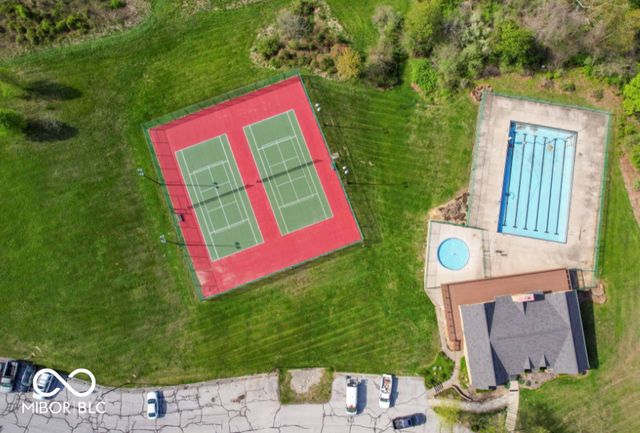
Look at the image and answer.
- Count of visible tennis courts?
2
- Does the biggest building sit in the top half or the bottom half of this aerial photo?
bottom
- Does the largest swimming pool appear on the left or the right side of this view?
right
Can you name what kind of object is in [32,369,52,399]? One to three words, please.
vehicle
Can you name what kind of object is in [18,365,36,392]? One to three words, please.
car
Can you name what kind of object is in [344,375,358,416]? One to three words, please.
vehicle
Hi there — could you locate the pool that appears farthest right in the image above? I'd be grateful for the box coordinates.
[495,119,579,245]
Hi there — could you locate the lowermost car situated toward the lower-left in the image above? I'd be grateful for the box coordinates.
[146,391,159,419]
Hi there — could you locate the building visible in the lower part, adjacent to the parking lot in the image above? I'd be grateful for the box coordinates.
[458,289,591,389]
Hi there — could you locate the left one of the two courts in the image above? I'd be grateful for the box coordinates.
[149,100,287,296]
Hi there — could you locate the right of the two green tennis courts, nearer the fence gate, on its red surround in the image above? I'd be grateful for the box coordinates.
[228,75,361,266]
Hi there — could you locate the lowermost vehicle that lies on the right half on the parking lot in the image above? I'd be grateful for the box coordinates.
[392,411,428,432]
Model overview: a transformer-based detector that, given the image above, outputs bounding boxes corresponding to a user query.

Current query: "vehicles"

[376,373,394,409]
[18,365,36,392]
[32,369,52,399]
[392,411,428,432]
[1,359,21,393]
[146,391,159,419]
[344,375,358,416]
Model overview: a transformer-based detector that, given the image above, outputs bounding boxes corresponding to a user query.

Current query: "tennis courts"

[228,75,361,266]
[149,100,287,296]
